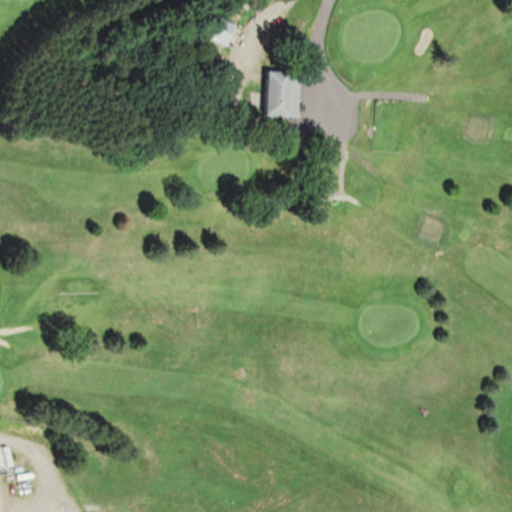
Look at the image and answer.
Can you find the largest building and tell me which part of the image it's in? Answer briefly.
top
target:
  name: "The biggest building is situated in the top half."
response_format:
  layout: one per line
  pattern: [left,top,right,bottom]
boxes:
[267,71,300,119]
